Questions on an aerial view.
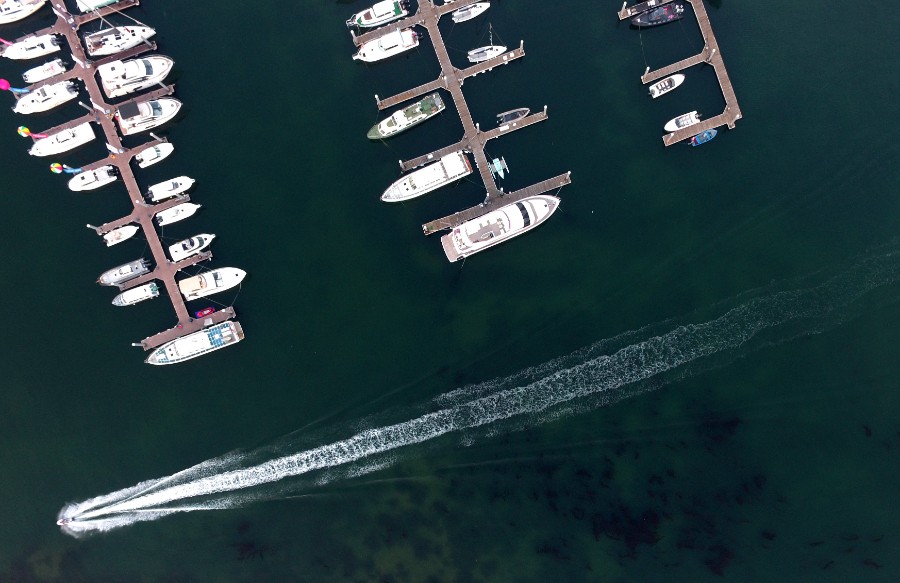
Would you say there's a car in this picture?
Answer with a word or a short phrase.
No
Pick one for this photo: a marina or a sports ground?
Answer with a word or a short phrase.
marina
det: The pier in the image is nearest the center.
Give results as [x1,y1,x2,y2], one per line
[353,0,573,235]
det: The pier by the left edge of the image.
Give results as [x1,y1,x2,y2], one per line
[0,0,236,350]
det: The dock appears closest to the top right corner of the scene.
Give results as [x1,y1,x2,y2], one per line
[618,0,744,146]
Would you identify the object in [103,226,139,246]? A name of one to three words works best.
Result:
boat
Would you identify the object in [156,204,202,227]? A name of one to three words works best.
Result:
boat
